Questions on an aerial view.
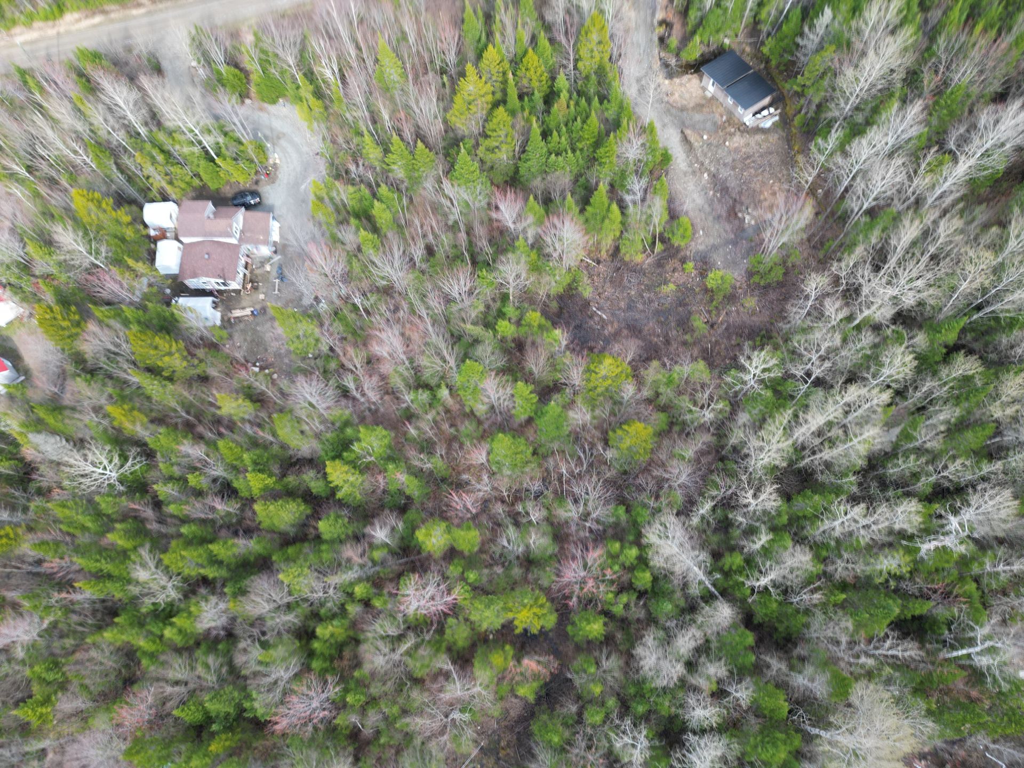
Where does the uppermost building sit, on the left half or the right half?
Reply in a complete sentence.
The uppermost building sits on the right side.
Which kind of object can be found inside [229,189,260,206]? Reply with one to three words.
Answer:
car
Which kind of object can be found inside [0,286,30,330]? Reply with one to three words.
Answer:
shed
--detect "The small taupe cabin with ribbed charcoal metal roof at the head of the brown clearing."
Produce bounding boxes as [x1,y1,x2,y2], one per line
[700,51,777,123]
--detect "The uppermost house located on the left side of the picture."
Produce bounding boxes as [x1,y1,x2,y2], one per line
[171,202,275,290]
